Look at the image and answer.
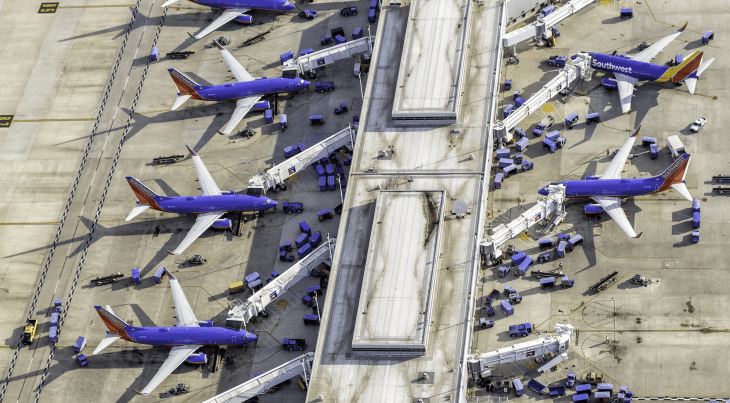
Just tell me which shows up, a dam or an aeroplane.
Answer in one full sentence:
The image shows an aeroplane.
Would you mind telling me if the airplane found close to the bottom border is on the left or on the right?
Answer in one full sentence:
The airplane found close to the bottom border sits on the left side.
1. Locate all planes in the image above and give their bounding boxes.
[94,267,259,397]
[571,21,714,117]
[538,126,692,240]
[167,40,311,137]
[162,0,295,40]
[125,145,279,257]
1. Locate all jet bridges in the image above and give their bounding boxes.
[249,123,364,195]
[479,190,568,272]
[196,350,318,403]
[500,0,605,59]
[491,54,592,148]
[466,324,580,390]
[228,234,341,328]
[281,37,382,82]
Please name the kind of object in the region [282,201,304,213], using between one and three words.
vehicle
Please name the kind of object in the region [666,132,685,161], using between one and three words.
vehicle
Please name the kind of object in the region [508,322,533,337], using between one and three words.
work vehicle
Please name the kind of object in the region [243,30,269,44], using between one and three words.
work vehicle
